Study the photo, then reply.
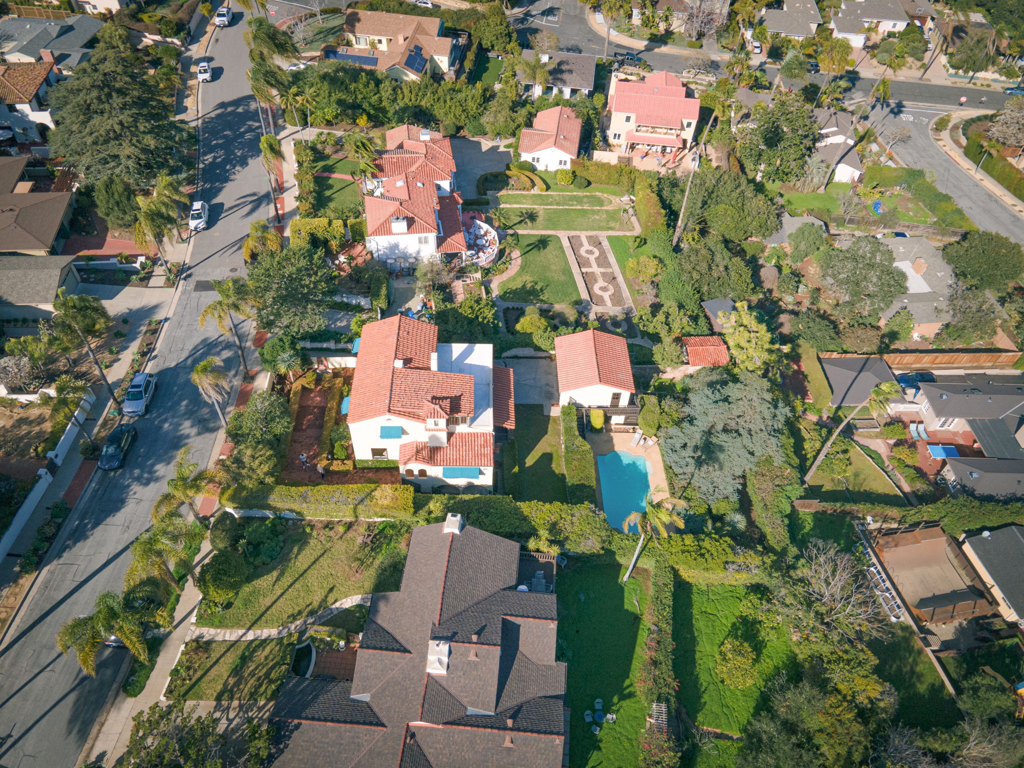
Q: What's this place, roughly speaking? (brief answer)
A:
residential area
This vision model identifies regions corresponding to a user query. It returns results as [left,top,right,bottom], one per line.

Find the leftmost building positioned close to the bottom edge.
[236,511,570,768]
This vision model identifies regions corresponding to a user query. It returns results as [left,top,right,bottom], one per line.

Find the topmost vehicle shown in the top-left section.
[216,6,231,22]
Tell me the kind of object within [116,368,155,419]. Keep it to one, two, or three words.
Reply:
car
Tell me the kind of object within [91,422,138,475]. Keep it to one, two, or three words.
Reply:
car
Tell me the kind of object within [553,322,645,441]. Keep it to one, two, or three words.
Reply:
building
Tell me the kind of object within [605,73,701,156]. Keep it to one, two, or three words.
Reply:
house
